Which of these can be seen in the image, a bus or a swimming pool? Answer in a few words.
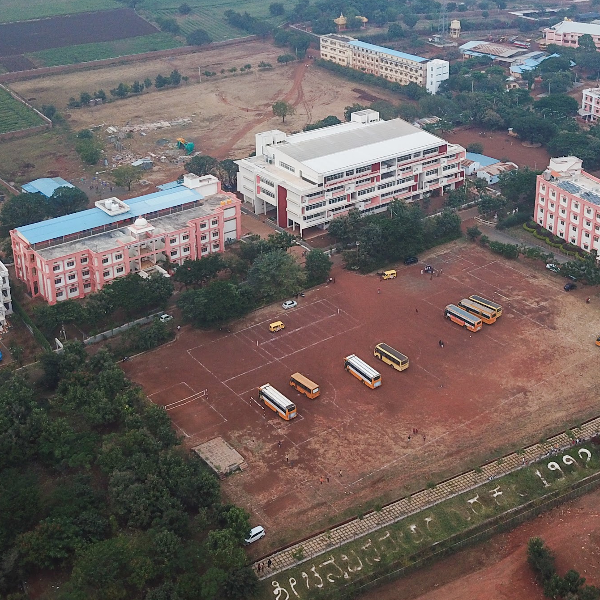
bus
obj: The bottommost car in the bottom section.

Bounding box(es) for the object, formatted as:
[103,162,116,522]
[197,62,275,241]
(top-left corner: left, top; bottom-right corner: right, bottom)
[247,523,266,542]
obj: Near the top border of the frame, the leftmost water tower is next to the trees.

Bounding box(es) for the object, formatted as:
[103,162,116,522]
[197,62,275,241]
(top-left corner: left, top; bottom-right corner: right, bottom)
[448,11,463,38]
